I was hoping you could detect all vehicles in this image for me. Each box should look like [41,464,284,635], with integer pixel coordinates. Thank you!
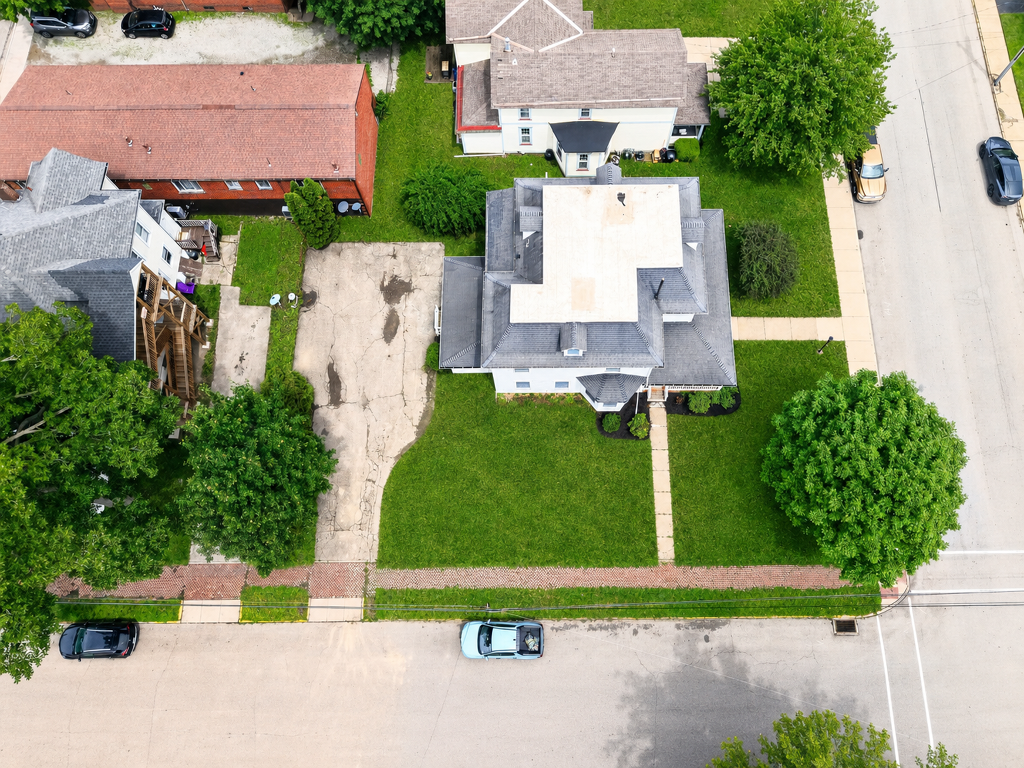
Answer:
[853,131,890,204]
[460,619,546,661]
[121,10,176,41]
[61,621,143,662]
[30,9,96,43]
[979,139,1024,204]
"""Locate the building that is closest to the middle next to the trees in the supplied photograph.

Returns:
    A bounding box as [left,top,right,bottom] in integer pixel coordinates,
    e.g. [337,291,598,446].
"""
[435,159,738,416]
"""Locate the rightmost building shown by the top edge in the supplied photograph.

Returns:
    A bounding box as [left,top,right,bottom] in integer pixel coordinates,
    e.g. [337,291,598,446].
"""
[446,0,709,176]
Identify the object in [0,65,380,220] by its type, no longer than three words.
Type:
building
